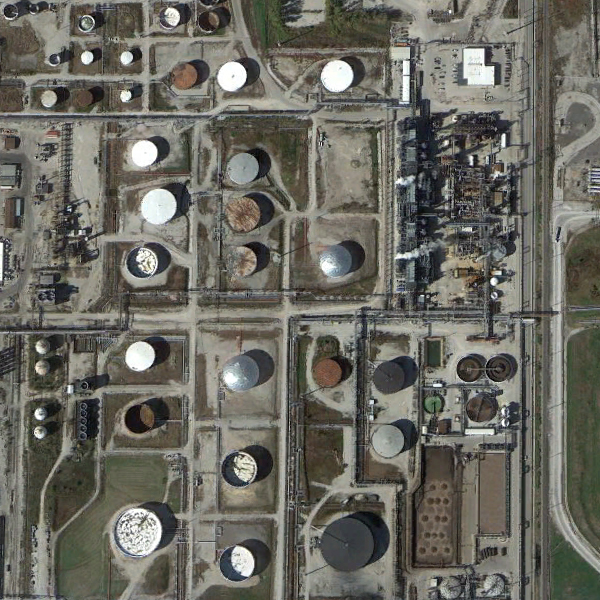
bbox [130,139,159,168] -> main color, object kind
white storage tank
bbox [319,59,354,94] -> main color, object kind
white storage tank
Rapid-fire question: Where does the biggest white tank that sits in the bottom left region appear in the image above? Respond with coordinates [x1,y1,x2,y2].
[113,506,165,557]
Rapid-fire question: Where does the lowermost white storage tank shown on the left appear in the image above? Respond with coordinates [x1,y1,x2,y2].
[219,544,256,582]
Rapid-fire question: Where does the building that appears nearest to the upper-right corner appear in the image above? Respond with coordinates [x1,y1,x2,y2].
[463,48,495,86]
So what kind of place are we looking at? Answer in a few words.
industrial area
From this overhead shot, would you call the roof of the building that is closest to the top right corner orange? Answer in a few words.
No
